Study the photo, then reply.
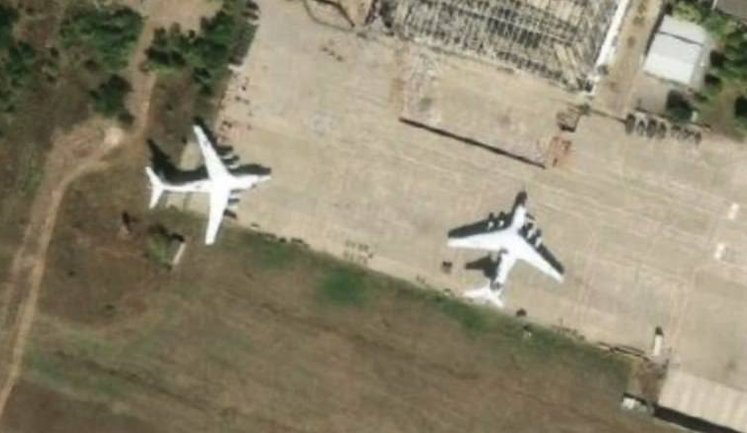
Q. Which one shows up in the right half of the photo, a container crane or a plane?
plane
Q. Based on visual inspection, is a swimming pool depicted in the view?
No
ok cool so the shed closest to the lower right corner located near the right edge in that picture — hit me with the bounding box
[656,370,747,433]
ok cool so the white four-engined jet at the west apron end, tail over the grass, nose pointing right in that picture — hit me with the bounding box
[150,127,272,245]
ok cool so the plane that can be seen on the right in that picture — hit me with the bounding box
[445,197,562,308]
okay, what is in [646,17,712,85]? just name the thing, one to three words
house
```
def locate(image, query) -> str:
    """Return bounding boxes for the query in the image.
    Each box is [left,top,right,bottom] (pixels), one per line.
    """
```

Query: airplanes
[150,127,272,245]
[445,197,562,308]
